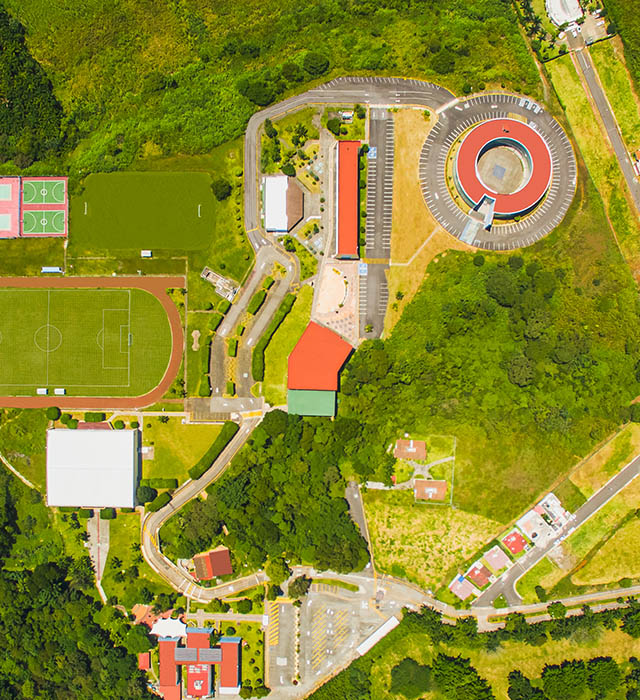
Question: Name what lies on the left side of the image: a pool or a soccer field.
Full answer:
There is a soccer field on the left side of the image.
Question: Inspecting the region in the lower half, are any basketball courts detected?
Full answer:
No, I can find no basketball court in the lower half.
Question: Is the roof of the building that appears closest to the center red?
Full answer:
Yes, the roof of the building that appears closest to the center is indeed red.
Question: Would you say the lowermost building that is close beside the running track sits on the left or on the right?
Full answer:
It is on the left.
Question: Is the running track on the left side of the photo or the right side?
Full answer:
It is on the left.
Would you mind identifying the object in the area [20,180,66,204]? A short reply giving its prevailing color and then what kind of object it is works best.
green basketball court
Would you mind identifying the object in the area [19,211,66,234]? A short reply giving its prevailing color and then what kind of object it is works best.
green basketball court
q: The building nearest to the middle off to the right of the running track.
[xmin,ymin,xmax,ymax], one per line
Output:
[288,321,352,390]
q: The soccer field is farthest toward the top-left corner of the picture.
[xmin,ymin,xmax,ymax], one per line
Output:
[69,172,216,249]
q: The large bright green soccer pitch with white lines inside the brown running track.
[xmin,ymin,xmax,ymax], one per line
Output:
[0,288,172,396]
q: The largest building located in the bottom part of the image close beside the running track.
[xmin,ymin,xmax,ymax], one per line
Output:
[46,428,137,509]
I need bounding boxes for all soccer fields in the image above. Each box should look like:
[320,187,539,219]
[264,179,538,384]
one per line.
[0,288,172,396]
[69,172,216,249]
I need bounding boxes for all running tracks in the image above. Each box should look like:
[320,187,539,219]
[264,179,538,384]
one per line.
[0,277,186,409]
